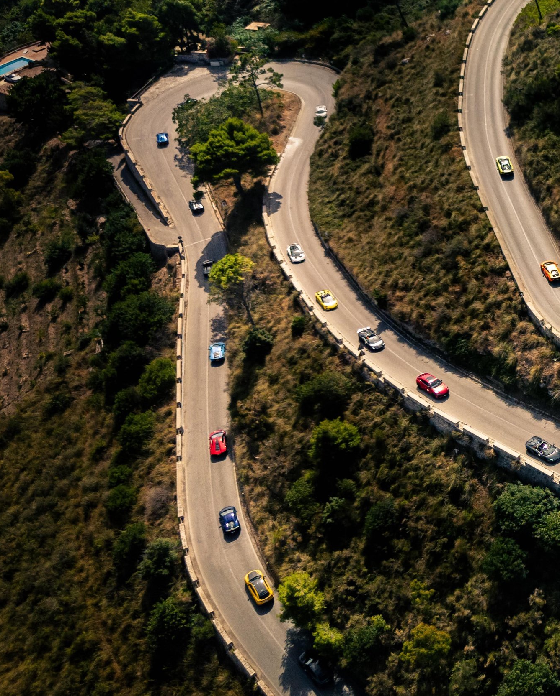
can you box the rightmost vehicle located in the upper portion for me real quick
[541,261,560,284]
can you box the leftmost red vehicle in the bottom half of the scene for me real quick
[209,433,227,458]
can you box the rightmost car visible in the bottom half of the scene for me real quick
[523,436,560,464]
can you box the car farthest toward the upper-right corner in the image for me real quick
[496,158,514,177]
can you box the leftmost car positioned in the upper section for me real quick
[156,134,170,146]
